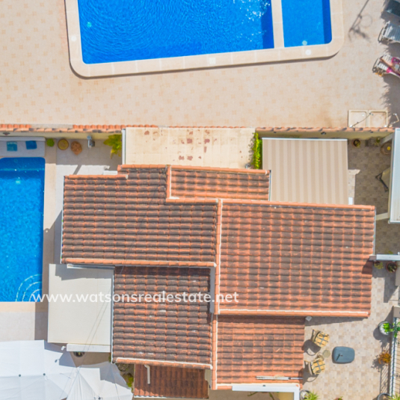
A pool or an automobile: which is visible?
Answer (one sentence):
The image shows a pool.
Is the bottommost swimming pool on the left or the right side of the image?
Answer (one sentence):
You can find the bottommost swimming pool on the left side of the picture.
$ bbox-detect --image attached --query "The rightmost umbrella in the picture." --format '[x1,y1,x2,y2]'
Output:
[375,171,390,190]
